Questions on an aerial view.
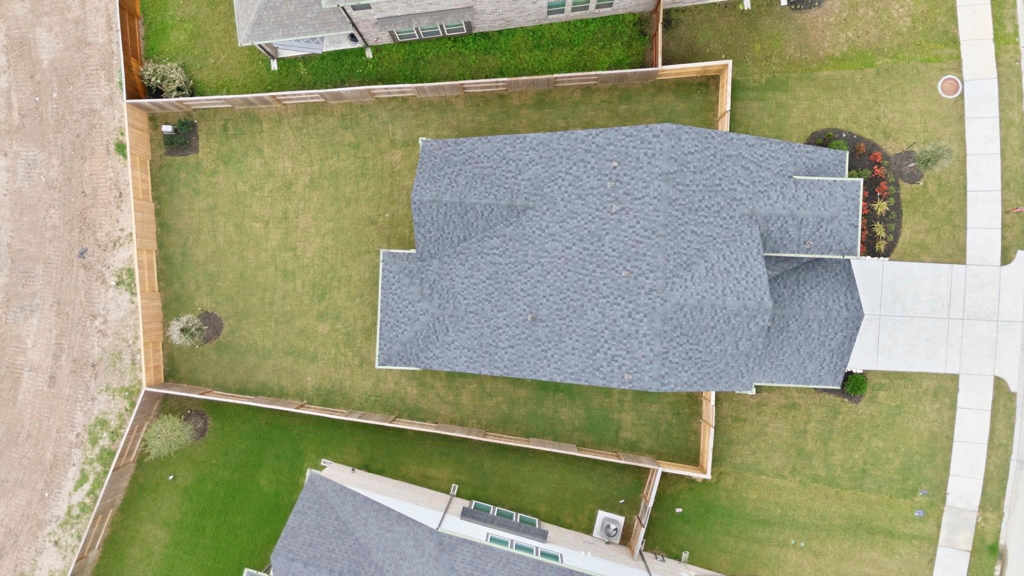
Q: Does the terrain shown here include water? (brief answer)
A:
No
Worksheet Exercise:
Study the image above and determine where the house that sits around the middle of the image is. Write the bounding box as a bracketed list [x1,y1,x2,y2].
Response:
[374,123,866,395]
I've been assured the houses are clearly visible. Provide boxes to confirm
[230,0,726,63]
[374,123,866,395]
[240,463,723,576]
